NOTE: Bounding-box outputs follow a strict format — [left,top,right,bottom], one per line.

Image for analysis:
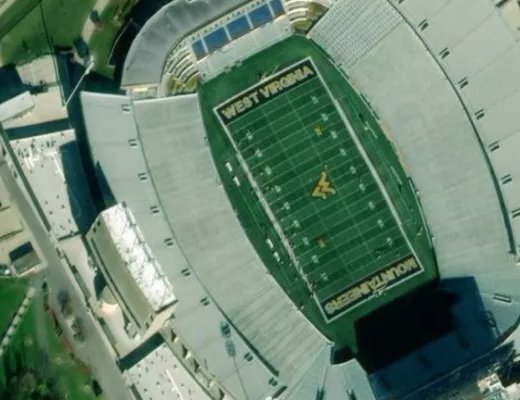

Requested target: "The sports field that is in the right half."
[213,56,424,322]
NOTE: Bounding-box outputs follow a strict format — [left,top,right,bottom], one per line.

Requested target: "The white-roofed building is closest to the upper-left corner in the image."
[0,90,35,125]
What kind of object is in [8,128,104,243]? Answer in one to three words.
building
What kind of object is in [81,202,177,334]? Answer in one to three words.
building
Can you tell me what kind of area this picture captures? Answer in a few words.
sports ground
